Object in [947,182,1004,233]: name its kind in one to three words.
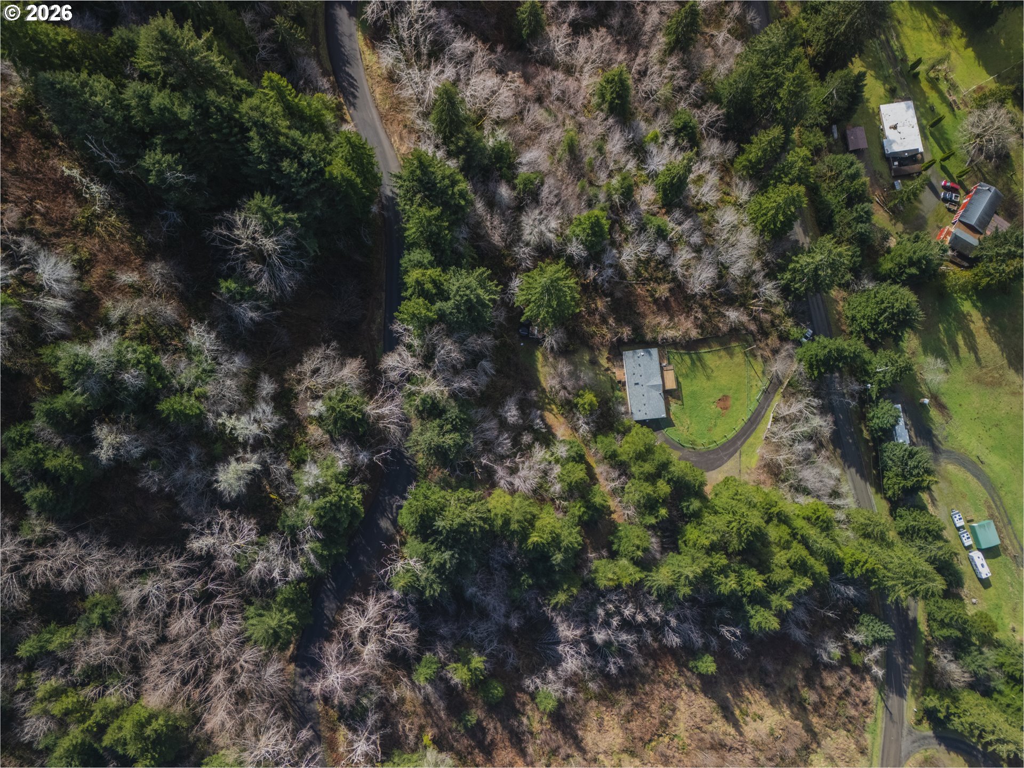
barn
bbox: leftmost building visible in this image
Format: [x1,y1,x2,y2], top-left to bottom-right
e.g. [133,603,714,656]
[623,348,667,421]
